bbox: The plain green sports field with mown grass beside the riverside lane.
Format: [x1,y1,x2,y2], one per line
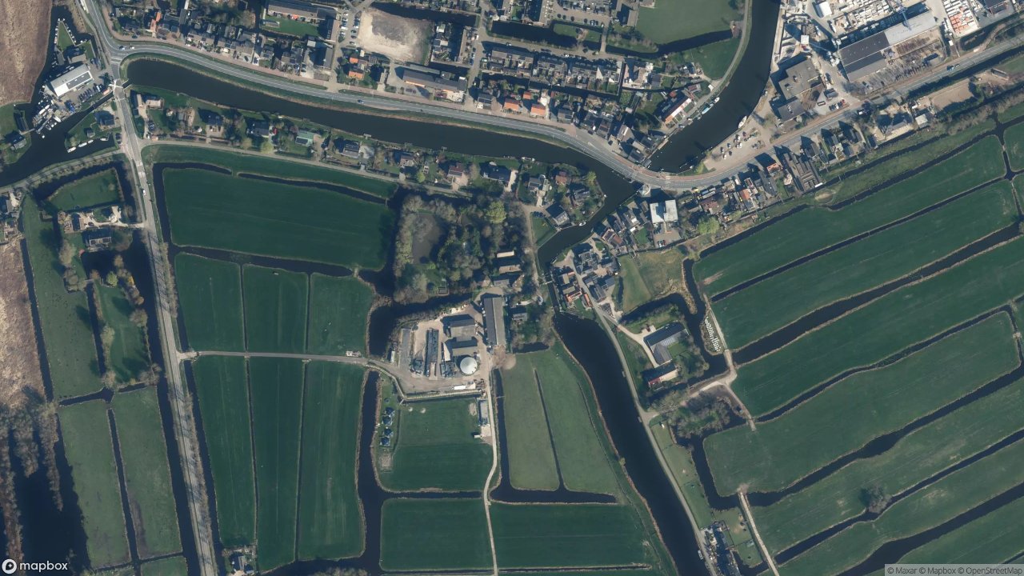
[638,0,746,43]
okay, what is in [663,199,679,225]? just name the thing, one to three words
building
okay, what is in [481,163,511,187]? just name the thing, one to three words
house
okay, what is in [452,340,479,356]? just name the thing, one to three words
barn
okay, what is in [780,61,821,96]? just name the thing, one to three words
building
